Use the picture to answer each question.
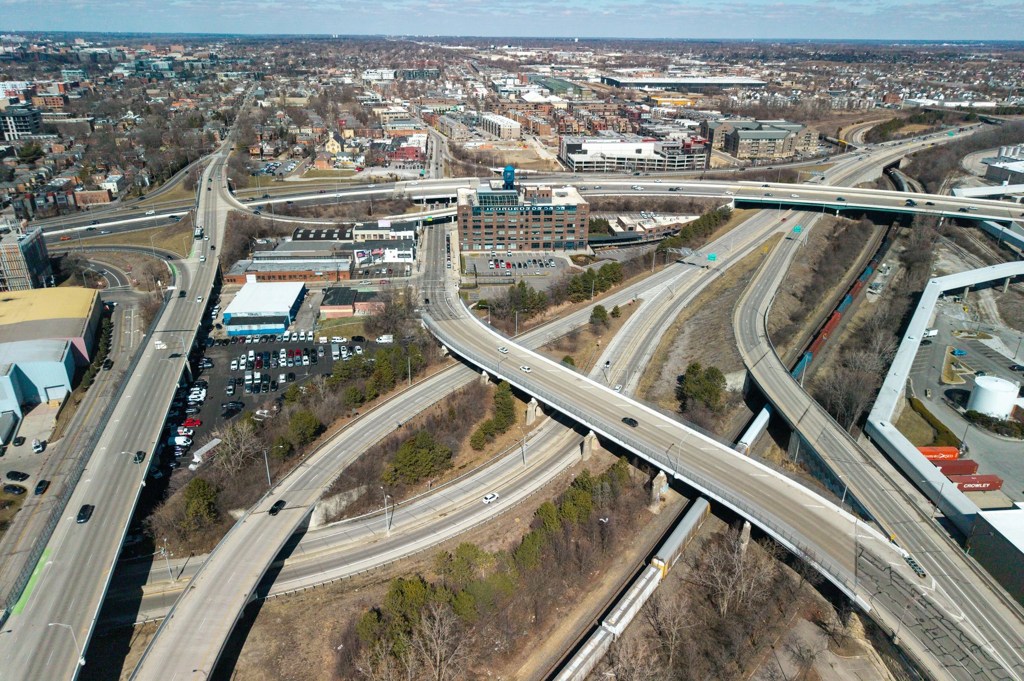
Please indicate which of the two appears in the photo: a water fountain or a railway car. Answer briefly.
railway car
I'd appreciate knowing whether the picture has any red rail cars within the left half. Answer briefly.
No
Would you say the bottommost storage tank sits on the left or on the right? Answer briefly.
right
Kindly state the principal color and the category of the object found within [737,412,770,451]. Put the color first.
white rail car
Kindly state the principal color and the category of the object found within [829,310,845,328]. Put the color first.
red rail car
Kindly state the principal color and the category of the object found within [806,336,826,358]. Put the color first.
red rail car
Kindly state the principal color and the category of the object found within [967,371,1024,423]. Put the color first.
white storage tank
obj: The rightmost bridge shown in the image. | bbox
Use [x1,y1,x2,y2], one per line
[419,289,1021,681]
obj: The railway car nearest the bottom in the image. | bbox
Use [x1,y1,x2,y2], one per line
[553,620,616,681]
